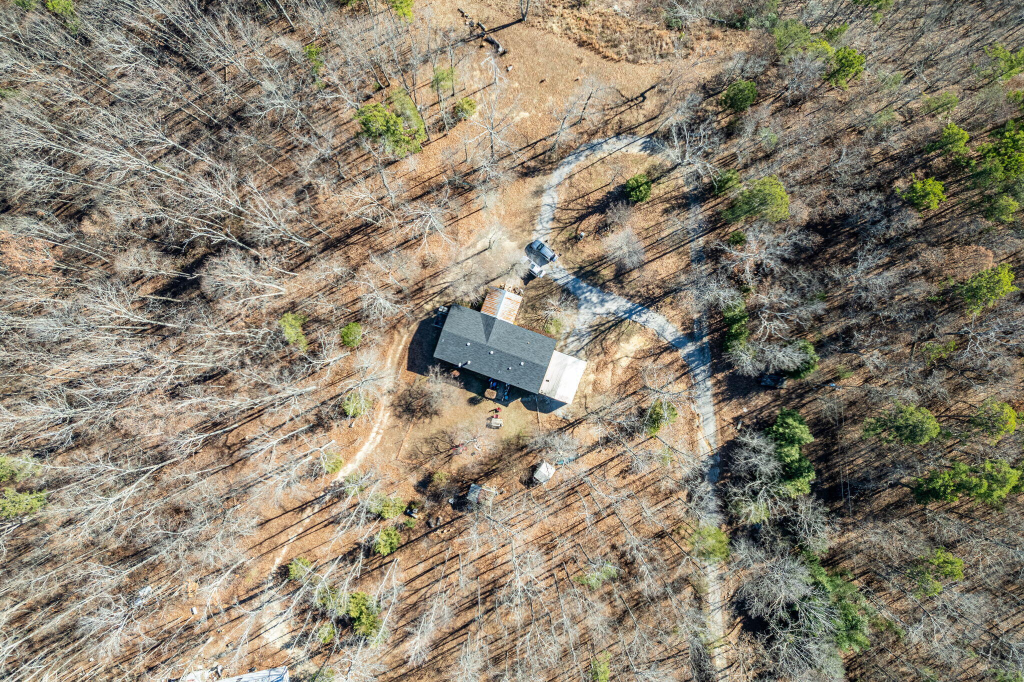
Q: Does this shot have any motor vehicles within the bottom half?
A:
No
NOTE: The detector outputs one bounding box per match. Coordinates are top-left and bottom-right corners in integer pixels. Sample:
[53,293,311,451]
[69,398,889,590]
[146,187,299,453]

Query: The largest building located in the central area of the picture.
[434,286,557,393]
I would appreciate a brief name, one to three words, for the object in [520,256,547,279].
car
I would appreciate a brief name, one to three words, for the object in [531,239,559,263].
car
